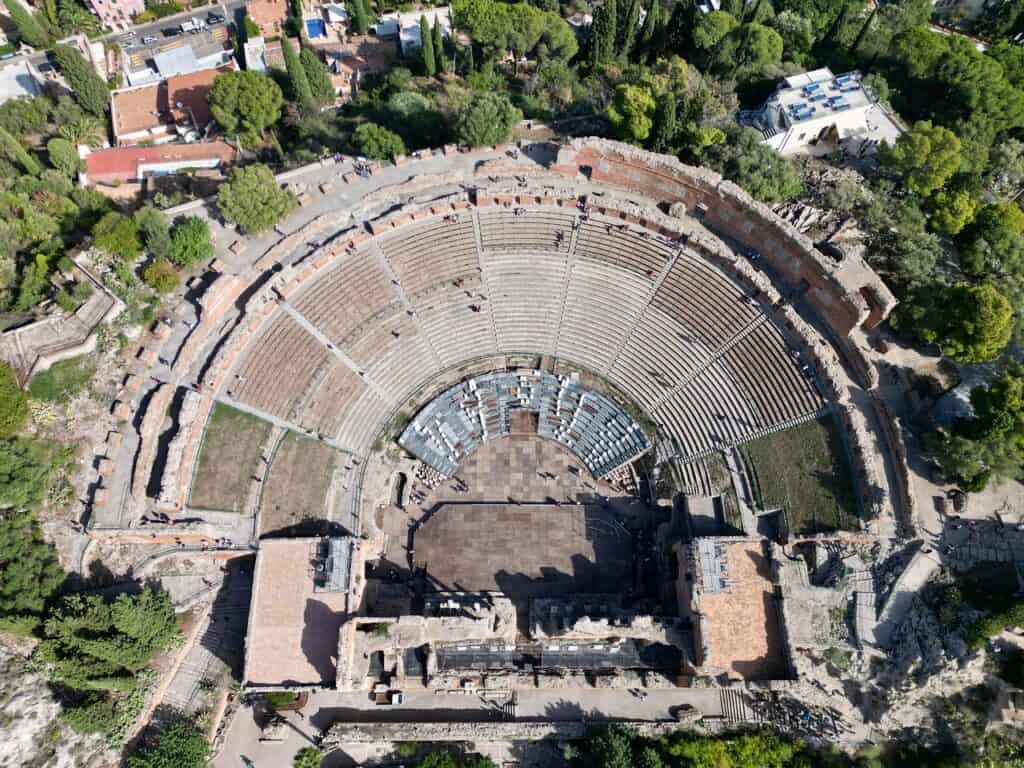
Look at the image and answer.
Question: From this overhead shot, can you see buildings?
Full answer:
Yes, the picture does show a building.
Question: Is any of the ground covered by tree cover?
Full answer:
Yes, there's tree cover in this view.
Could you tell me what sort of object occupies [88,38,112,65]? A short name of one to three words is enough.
house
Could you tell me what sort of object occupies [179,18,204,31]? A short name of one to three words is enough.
vehicle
